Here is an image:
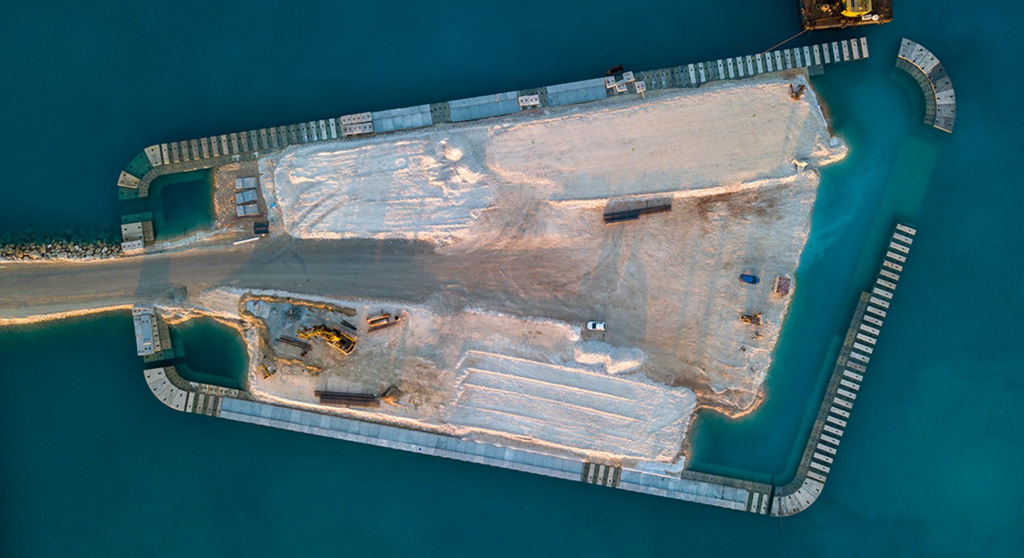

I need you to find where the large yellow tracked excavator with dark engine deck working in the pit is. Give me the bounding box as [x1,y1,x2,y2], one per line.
[293,324,356,357]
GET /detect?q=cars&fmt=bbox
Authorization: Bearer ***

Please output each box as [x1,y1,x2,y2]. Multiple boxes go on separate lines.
[741,274,761,284]
[587,321,606,330]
